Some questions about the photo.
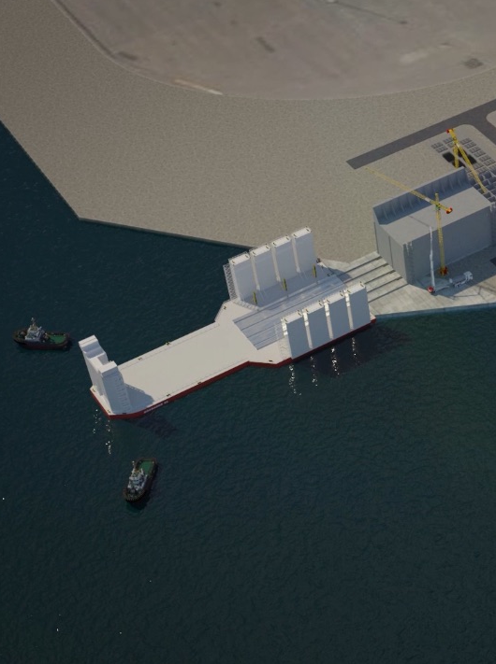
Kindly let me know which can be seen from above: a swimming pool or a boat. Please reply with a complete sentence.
Looking from above, you can make out a boat.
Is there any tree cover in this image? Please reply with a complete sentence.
No, the scene doesn't show any tree cover.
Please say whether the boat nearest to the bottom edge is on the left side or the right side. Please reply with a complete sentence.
It is on the left.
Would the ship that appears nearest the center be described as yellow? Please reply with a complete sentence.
No, the ship that appears nearest the center is white.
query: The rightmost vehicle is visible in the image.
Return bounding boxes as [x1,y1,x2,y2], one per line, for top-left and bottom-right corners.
[450,273,471,286]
